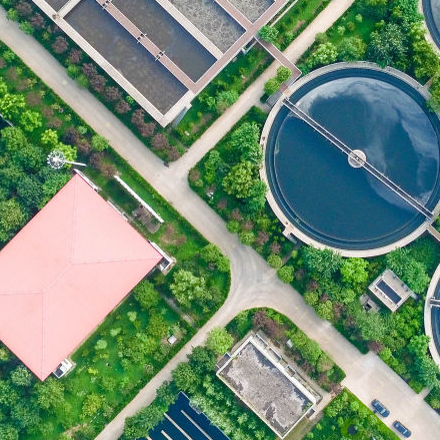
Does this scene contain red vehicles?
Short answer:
No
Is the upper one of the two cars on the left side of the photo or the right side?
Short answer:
right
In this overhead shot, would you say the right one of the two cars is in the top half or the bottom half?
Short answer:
bottom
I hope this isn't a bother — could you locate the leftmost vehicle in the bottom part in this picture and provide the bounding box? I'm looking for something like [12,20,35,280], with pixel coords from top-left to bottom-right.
[369,397,390,419]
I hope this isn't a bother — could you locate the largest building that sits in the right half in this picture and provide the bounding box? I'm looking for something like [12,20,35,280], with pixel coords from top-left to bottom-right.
[216,329,327,439]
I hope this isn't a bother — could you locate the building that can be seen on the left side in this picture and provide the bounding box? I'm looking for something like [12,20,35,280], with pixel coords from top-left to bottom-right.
[0,169,177,380]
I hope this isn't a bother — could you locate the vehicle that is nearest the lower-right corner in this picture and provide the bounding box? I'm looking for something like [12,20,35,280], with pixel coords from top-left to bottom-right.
[390,418,413,439]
